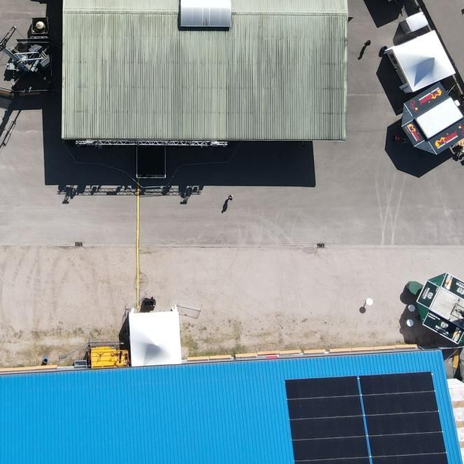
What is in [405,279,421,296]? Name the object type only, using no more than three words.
umbrella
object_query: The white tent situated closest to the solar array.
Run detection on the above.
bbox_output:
[130,307,181,366]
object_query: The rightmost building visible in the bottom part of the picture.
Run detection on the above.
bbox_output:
[413,272,464,341]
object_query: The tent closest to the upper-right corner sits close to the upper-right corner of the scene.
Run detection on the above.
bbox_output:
[385,31,455,93]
